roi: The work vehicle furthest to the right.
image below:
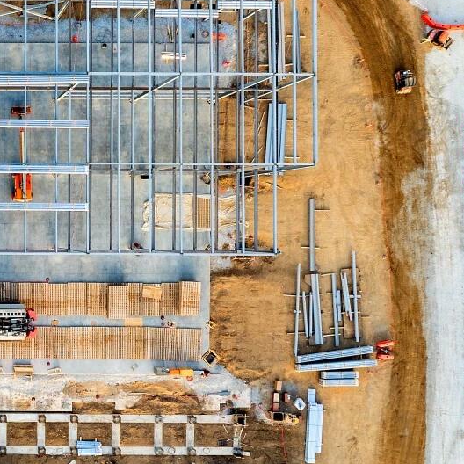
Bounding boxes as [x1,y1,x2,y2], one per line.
[430,24,459,54]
